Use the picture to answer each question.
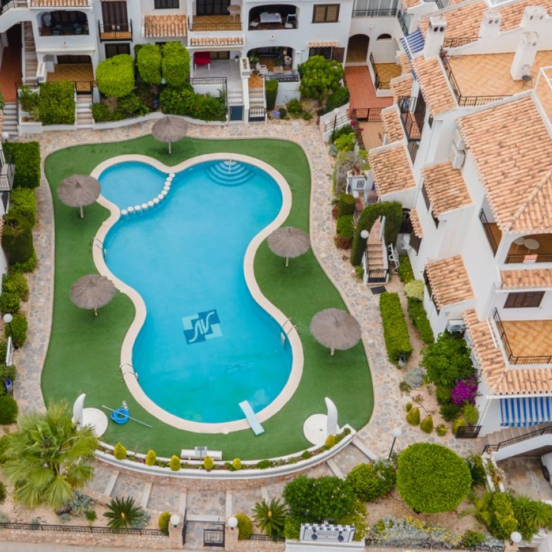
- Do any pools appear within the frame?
Yes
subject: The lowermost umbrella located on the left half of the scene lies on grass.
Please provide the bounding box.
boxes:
[65,266,119,316]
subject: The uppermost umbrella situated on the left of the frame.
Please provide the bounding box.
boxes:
[145,110,193,154]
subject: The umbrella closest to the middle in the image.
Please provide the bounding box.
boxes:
[262,219,317,266]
